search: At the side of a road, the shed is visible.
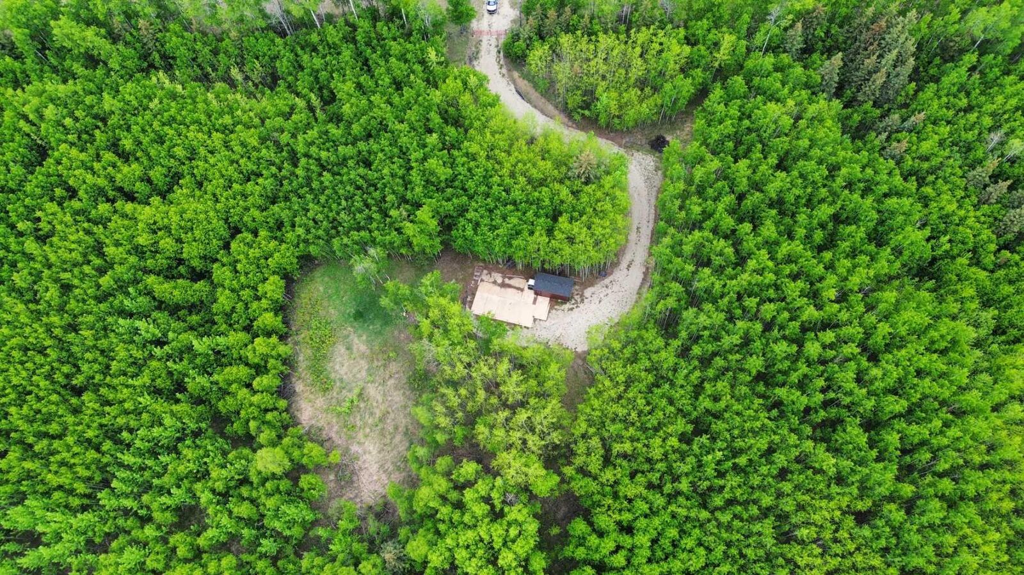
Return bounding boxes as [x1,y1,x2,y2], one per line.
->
[532,273,574,301]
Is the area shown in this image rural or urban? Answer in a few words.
rural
